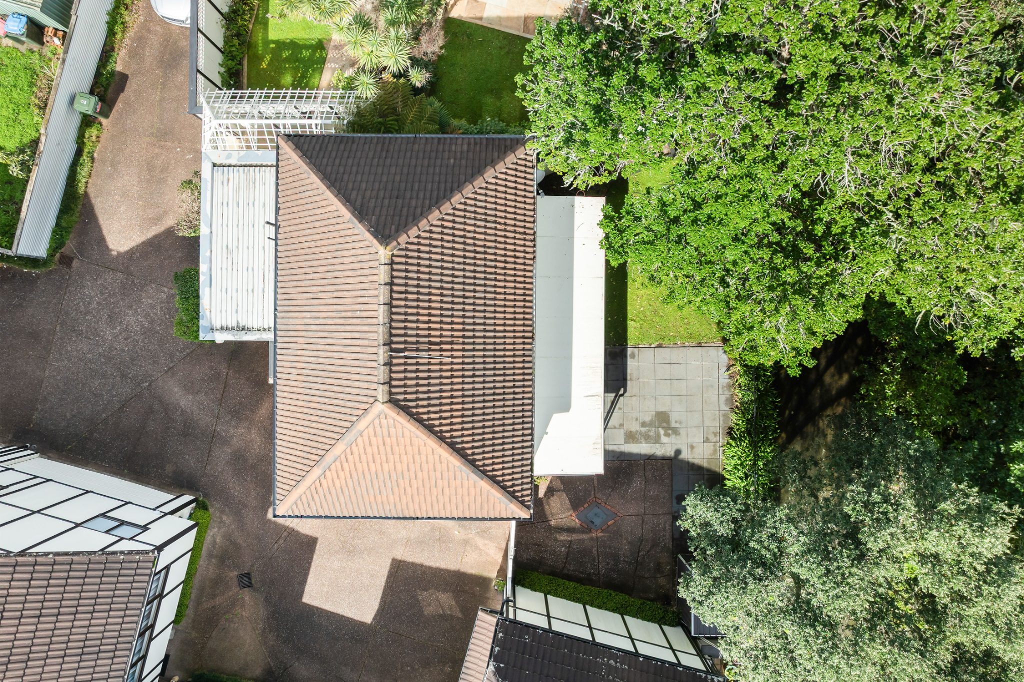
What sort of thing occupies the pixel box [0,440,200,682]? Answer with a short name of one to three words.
house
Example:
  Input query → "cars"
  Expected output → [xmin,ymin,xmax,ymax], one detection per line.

[148,0,193,31]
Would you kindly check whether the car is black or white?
white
